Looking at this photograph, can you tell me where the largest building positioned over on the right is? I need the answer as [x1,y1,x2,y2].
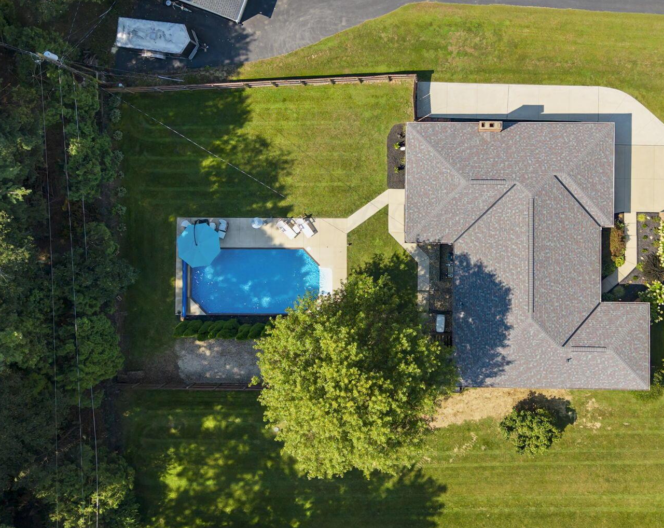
[404,120,652,392]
